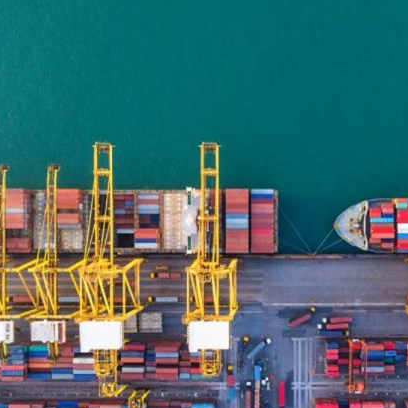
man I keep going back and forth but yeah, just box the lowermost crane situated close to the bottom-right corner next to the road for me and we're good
[341,334,368,397]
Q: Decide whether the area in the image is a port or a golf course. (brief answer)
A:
port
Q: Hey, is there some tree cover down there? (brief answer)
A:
No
